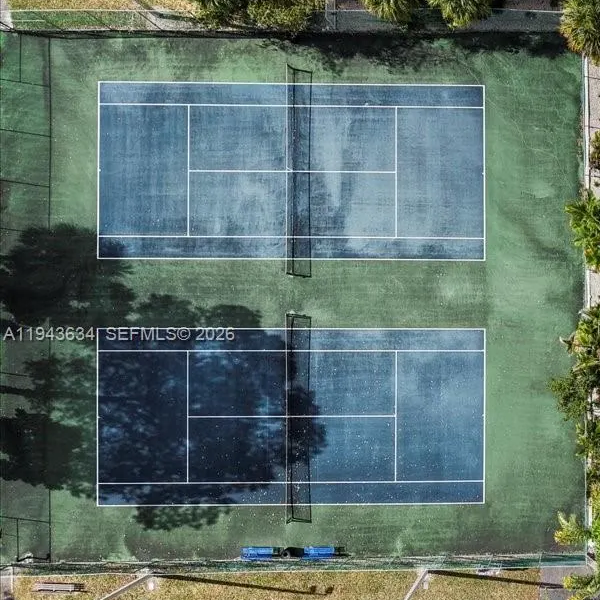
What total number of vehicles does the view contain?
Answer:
0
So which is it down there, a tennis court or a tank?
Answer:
tennis court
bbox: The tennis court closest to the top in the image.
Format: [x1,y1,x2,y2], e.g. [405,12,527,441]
[97,62,485,275]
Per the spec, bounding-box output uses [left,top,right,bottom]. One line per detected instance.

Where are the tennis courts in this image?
[97,62,485,275]
[96,312,485,526]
